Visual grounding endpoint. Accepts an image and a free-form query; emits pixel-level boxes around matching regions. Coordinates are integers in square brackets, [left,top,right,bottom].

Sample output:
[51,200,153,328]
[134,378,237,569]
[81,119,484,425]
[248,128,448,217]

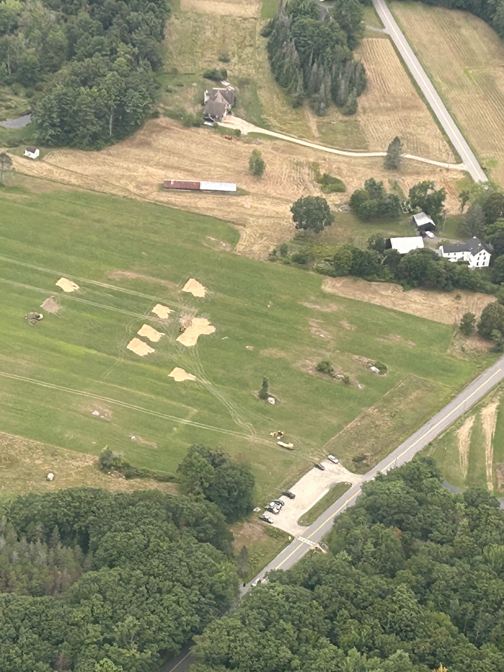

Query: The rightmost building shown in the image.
[442,236,491,270]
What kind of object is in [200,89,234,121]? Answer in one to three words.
house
